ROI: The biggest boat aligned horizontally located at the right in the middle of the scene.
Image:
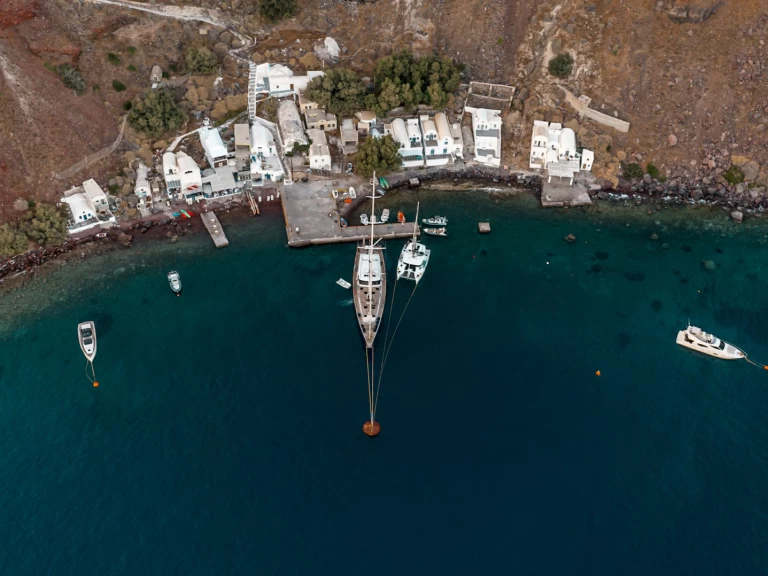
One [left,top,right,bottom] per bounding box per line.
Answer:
[674,325,751,358]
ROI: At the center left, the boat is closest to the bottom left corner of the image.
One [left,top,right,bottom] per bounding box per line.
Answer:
[78,318,98,362]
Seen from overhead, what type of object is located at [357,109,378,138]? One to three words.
house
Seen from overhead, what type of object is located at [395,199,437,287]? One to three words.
boat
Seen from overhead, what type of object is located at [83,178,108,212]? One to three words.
house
